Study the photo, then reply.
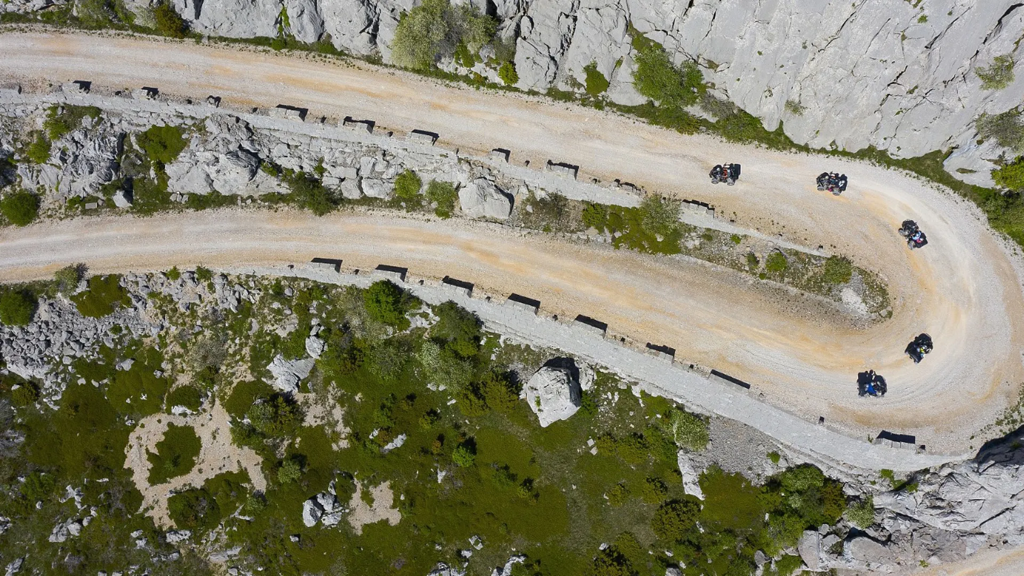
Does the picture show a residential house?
No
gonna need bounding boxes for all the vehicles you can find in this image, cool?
[900,224,929,252]
[712,167,740,186]
[906,335,936,365]
[857,379,890,400]
[819,175,849,197]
